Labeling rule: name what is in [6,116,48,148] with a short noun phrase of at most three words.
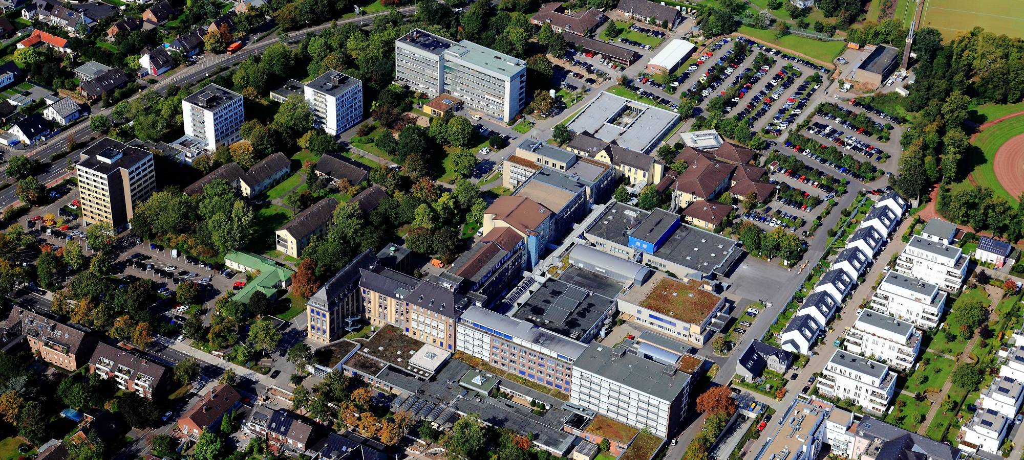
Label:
house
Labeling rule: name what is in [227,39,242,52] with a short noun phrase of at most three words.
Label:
vehicle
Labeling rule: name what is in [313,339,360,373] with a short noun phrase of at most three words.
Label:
building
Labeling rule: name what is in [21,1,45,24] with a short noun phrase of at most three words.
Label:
house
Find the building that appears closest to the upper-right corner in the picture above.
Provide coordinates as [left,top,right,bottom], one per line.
[856,44,899,86]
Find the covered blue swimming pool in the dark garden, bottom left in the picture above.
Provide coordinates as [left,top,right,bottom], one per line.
[59,406,86,425]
